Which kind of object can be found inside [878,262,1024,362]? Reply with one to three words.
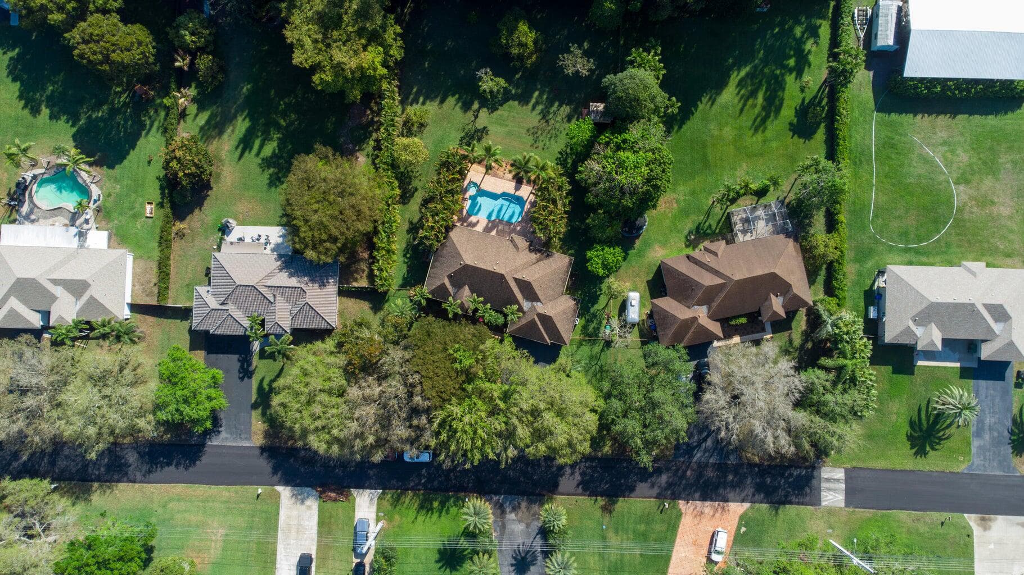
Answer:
house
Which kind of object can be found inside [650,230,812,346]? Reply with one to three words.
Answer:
house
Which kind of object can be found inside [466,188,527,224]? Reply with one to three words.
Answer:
swimming pool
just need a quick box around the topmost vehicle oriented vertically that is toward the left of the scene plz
[354,516,371,553]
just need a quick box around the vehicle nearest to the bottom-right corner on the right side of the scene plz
[710,528,727,561]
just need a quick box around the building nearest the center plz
[423,220,581,345]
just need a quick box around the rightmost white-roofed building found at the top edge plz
[897,0,1024,78]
